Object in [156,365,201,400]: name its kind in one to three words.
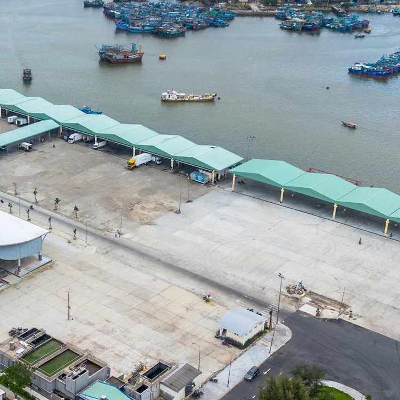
house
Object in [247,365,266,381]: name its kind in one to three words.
car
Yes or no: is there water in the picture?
Yes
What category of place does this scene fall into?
industrial area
